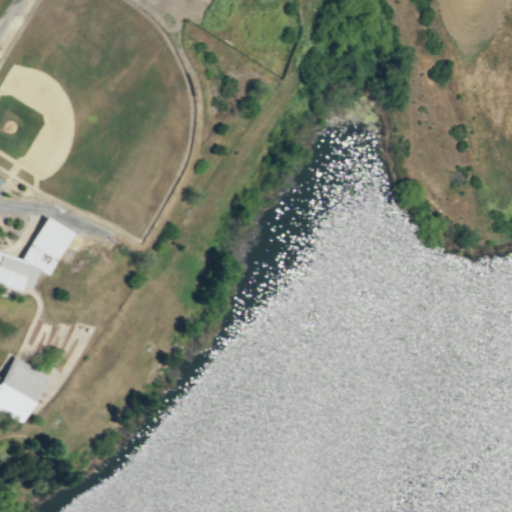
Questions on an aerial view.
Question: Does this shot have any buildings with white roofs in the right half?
No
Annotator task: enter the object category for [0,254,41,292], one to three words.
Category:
building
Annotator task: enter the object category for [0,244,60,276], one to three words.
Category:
building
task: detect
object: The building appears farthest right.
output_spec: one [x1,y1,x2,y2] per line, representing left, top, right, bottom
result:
[32,217,76,261]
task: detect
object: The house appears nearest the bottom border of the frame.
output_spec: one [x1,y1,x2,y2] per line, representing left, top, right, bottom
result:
[0,356,50,424]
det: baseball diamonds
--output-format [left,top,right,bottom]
[0,0,194,242]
